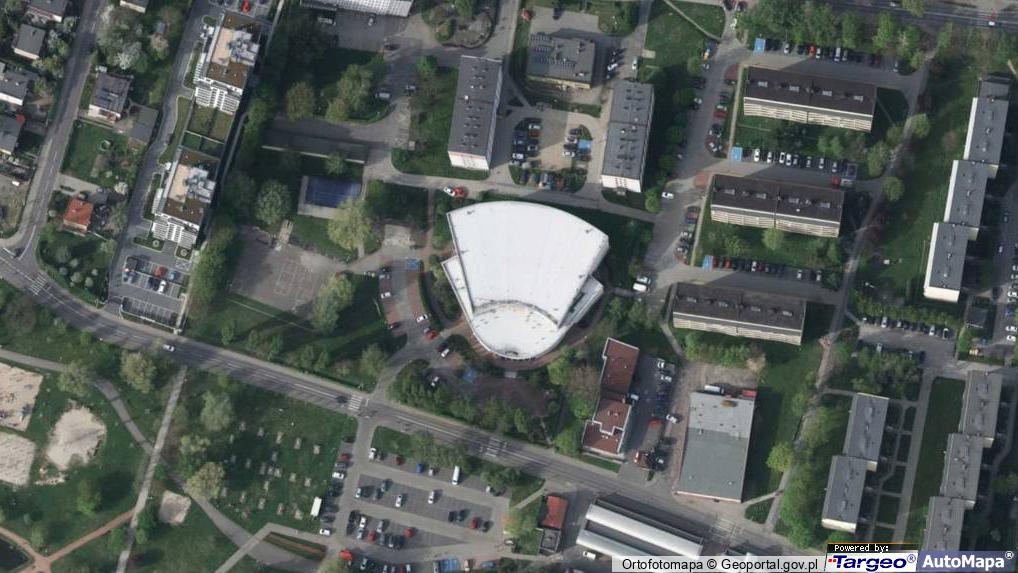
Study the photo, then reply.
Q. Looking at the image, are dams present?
No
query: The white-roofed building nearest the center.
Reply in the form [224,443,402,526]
[440,200,610,364]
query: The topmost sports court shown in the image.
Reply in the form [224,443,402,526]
[298,176,362,218]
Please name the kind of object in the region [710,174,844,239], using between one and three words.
building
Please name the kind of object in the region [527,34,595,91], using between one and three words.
building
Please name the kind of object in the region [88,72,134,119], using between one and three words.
house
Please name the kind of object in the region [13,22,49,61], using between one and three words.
house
